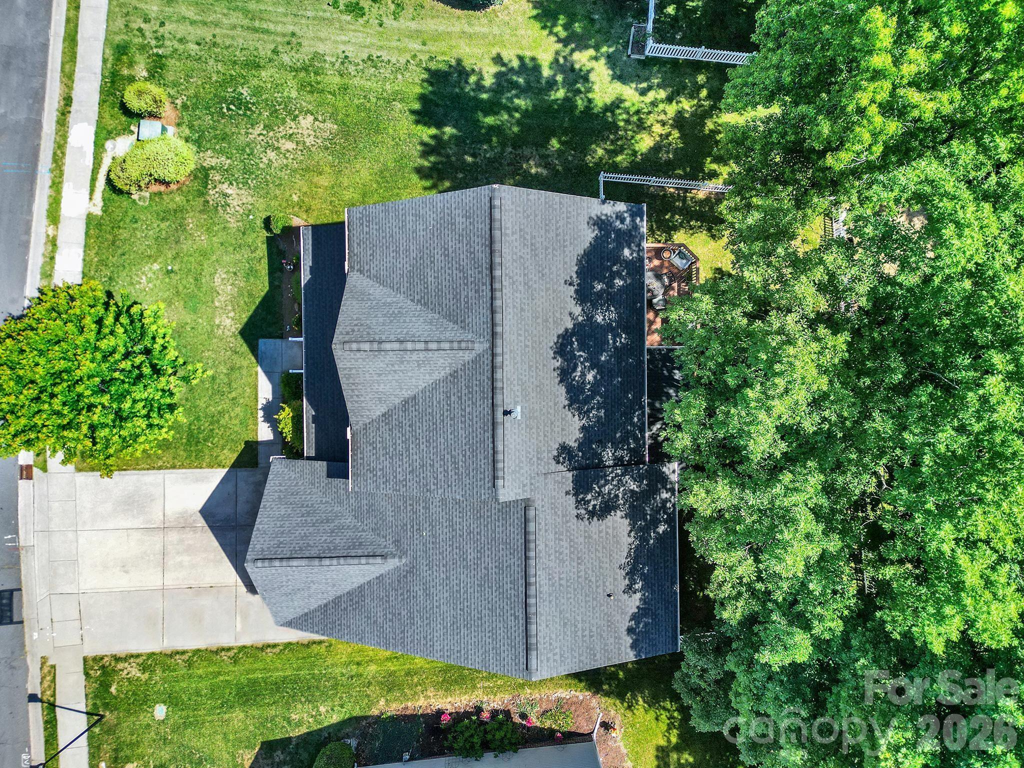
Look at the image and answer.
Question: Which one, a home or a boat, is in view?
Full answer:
Of the two, only a home appears.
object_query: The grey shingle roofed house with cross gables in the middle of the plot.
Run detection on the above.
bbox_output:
[245,186,706,680]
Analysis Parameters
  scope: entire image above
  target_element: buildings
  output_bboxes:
[245,186,706,680]
[358,714,604,768]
